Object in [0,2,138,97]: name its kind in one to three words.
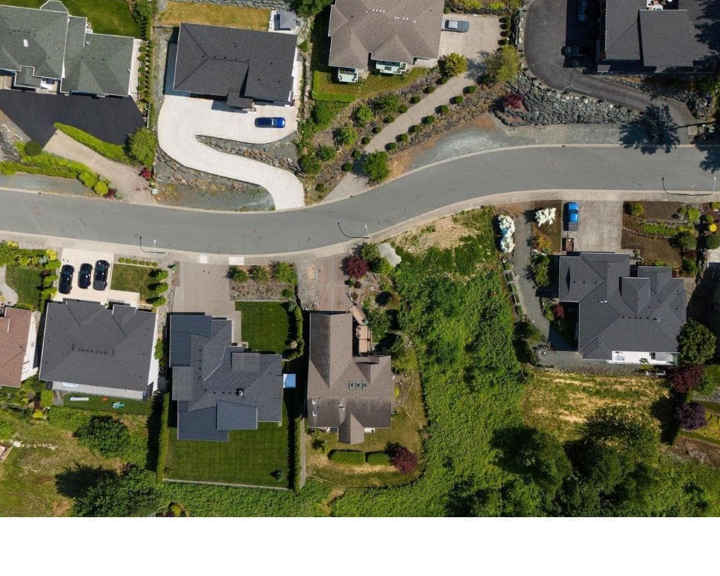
house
